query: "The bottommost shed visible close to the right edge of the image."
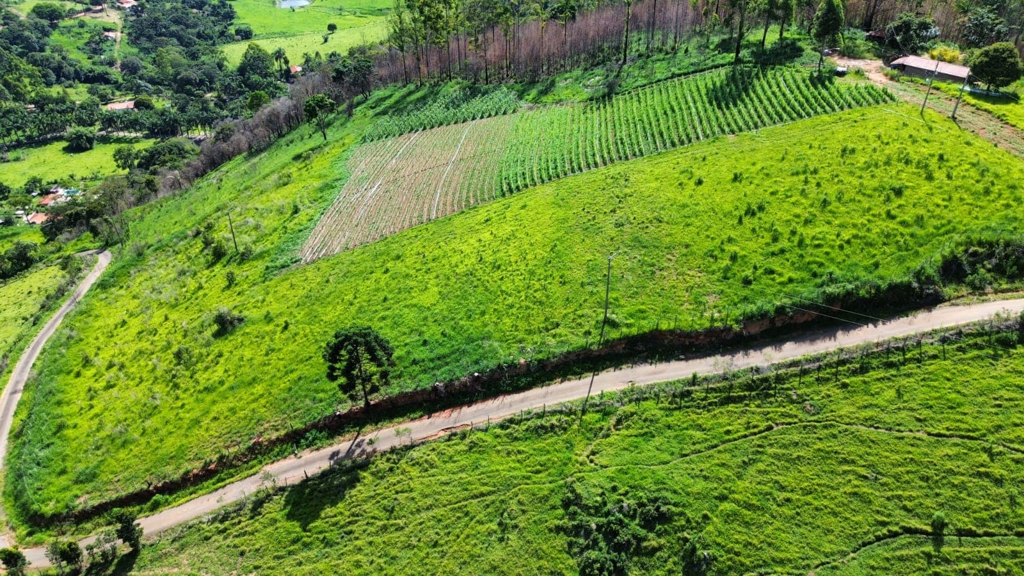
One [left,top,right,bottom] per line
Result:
[894,55,983,86]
